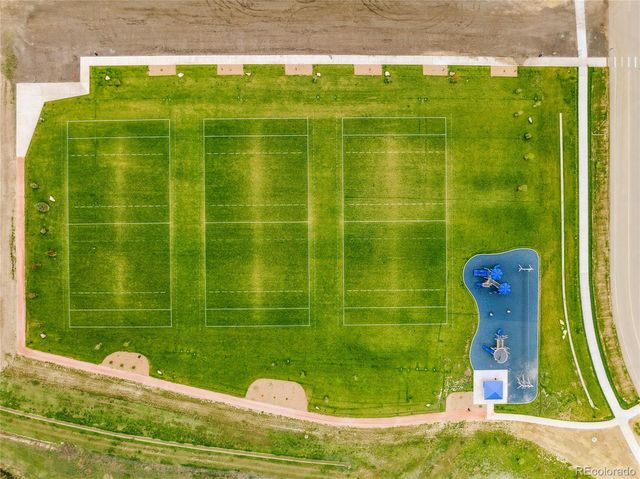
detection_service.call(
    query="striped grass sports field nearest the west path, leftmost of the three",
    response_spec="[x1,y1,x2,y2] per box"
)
[61,118,178,334]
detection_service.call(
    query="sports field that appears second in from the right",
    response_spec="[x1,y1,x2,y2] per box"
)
[197,117,316,335]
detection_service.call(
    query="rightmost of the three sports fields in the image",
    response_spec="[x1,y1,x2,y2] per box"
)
[336,116,454,333]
